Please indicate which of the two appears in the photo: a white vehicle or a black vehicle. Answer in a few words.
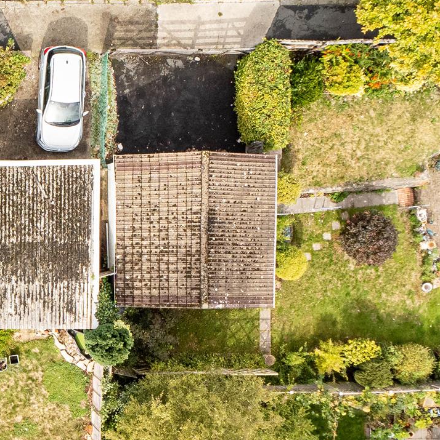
white vehicle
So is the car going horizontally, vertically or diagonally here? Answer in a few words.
vertically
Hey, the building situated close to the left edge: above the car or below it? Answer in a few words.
below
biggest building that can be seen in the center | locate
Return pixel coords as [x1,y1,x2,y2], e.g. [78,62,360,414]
[99,151,279,310]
